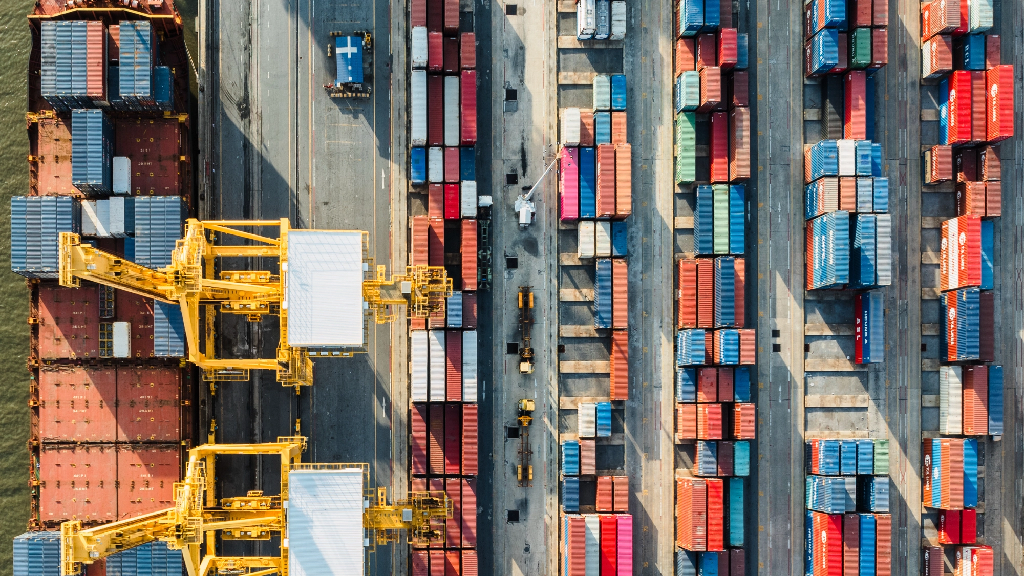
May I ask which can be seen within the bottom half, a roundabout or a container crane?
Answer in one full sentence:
Looking within the bottom half, you will find a container crane.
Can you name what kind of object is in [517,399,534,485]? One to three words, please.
vehicle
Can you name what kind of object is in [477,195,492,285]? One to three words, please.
vehicle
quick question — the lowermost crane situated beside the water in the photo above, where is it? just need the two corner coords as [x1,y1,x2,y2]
[54,421,456,576]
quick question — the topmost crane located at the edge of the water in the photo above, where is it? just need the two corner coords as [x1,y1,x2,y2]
[53,216,455,397]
